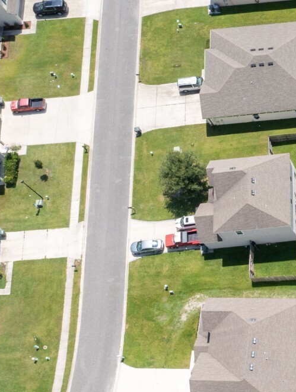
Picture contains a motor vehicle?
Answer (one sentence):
Yes, there's a motor vehicle down there.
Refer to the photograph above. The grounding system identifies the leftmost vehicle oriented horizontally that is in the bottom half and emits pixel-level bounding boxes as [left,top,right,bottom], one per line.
[129,241,165,256]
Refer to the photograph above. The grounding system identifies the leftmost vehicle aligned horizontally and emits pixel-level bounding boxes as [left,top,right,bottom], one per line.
[8,97,49,115]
